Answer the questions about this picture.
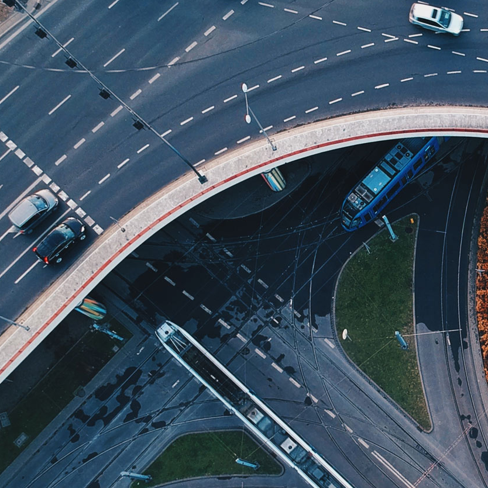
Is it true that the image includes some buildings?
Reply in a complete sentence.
No, there's no building here.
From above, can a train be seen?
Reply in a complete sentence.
Yes, this view includes a train.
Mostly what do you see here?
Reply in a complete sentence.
The scene is dominated by paved ground.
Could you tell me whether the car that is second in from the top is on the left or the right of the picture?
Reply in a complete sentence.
It is on the left.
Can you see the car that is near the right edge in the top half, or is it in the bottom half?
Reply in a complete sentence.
The car that is near the right edge is in the top half of the image.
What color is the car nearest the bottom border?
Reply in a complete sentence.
The car nearest the bottom border looks black in the image.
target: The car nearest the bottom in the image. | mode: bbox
[31,218,88,269]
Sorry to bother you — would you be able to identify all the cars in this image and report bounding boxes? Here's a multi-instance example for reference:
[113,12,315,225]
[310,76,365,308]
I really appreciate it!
[408,0,466,38]
[5,186,62,233]
[31,218,88,269]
